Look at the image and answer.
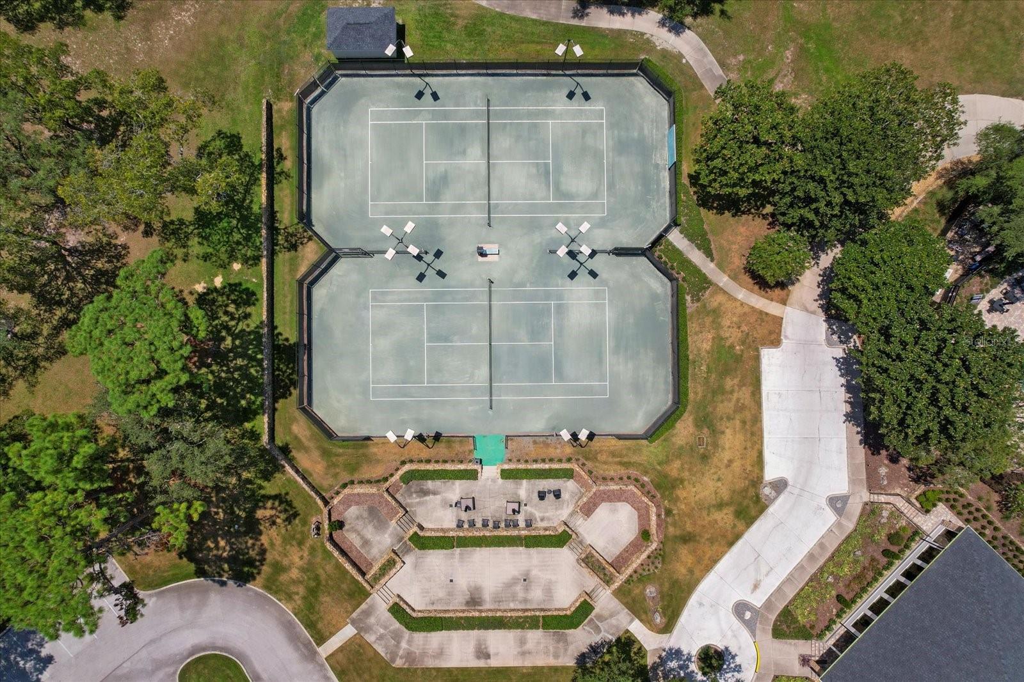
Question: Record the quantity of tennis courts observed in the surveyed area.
2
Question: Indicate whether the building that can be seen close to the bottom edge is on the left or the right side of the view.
right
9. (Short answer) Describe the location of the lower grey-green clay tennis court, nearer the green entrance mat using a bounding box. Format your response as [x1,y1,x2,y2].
[305,249,673,438]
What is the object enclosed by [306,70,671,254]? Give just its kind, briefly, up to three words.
tennis court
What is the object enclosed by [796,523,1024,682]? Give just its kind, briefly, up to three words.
building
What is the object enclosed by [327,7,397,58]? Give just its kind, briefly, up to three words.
shed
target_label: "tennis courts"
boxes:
[305,249,673,438]
[306,70,671,254]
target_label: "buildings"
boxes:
[796,523,1024,682]
[327,7,397,58]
